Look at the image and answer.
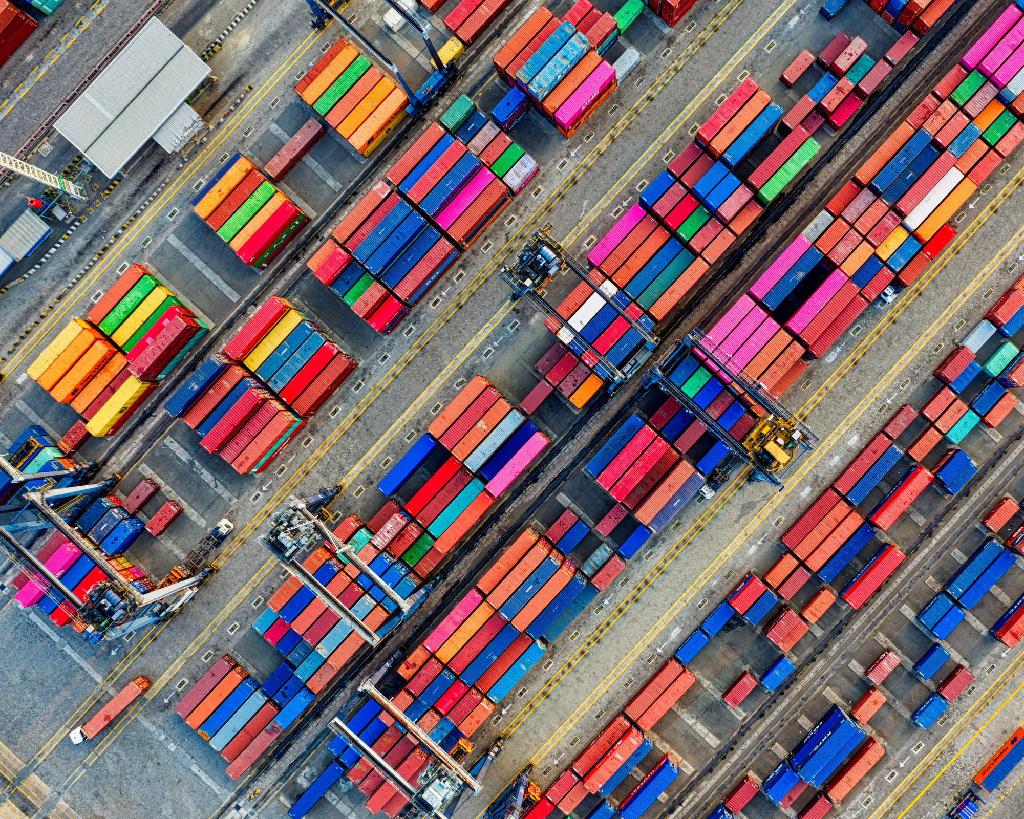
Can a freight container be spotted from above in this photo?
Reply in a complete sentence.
Yes, there's a freight container down there.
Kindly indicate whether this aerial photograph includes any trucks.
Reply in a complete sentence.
Yes, you can see a truck in this photo.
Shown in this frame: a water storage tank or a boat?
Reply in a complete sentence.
This aerial view contains a water storage tank.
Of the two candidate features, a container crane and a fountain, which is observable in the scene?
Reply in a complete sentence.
Looking from above, you can make out a container crane.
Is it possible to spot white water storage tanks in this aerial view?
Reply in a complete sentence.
No, the scene contains no white water storage tank.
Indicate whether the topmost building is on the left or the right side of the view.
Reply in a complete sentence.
The topmost building sits on the left side.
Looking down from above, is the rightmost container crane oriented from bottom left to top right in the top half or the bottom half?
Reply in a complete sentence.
You can find the rightmost container crane oriented from bottom left to top right in the bottom half.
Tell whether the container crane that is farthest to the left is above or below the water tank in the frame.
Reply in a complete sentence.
From this view, the container crane that is farthest to the left can be seen below the water tank.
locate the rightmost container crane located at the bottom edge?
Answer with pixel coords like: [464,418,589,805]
[478,752,545,819]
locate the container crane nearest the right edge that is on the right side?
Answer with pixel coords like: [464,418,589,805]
[633,324,818,490]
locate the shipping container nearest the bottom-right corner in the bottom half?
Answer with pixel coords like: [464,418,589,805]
[972,725,1024,790]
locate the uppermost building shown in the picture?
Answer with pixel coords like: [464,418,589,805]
[53,16,220,181]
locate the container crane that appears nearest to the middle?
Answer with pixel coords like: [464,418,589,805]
[494,219,670,402]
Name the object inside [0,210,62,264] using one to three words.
shed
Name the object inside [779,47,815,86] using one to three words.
shipping container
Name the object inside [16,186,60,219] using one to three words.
water tank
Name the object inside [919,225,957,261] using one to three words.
shipping container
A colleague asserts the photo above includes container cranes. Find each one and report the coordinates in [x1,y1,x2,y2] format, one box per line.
[478,752,545,819]
[0,447,111,520]
[328,635,516,819]
[494,219,670,402]
[0,462,227,645]
[301,0,464,127]
[633,324,818,490]
[248,474,450,652]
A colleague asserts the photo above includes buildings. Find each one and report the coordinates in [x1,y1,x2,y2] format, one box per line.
[50,205,73,224]
[53,16,220,181]
[0,210,62,264]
